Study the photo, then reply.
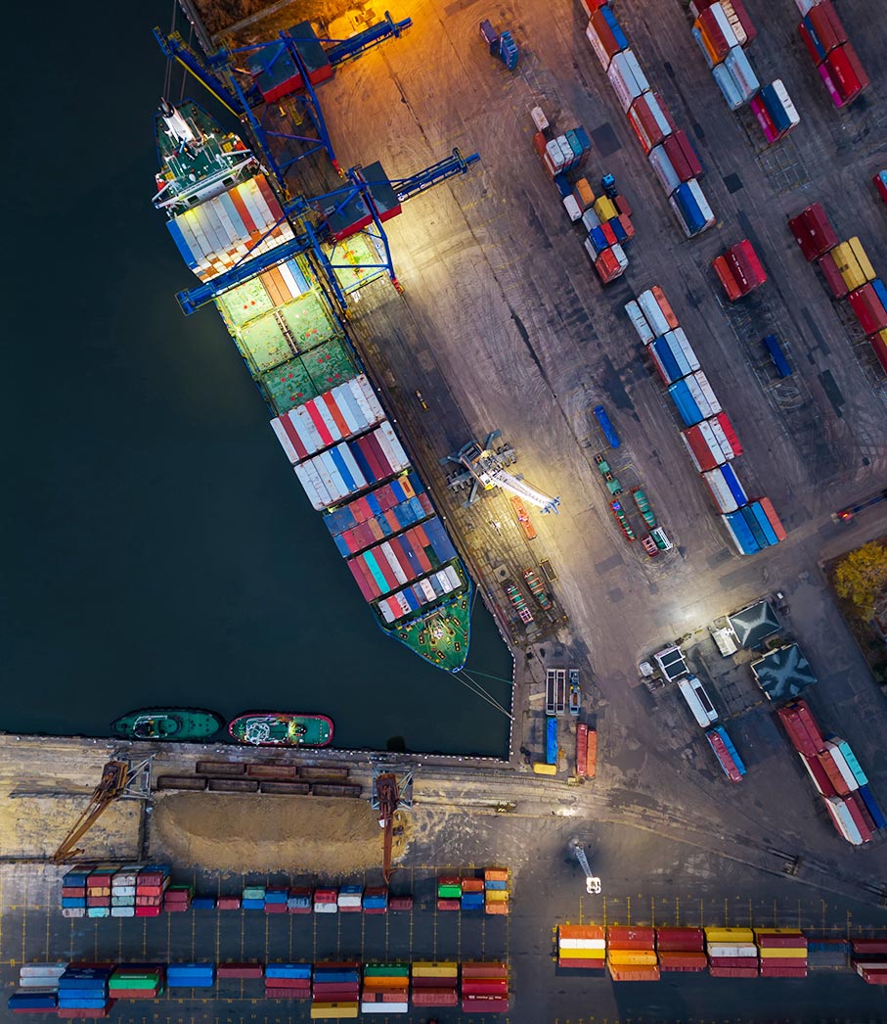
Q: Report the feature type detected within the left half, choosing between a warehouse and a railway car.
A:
railway car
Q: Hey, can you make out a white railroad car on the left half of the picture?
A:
No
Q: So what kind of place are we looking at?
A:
port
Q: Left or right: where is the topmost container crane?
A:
left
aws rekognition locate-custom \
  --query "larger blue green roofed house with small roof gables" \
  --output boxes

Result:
[748,642,817,700]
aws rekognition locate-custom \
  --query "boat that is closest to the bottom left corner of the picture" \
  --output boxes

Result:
[110,709,221,742]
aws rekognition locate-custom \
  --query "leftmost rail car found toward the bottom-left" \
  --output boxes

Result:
[153,778,205,794]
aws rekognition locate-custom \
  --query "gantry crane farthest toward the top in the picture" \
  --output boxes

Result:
[145,1,411,197]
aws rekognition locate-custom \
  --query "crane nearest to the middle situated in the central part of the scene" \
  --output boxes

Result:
[436,426,559,516]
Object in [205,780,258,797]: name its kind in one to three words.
rail car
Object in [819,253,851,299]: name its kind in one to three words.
shipping container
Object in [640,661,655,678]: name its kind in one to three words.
vehicle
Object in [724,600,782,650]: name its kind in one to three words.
house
